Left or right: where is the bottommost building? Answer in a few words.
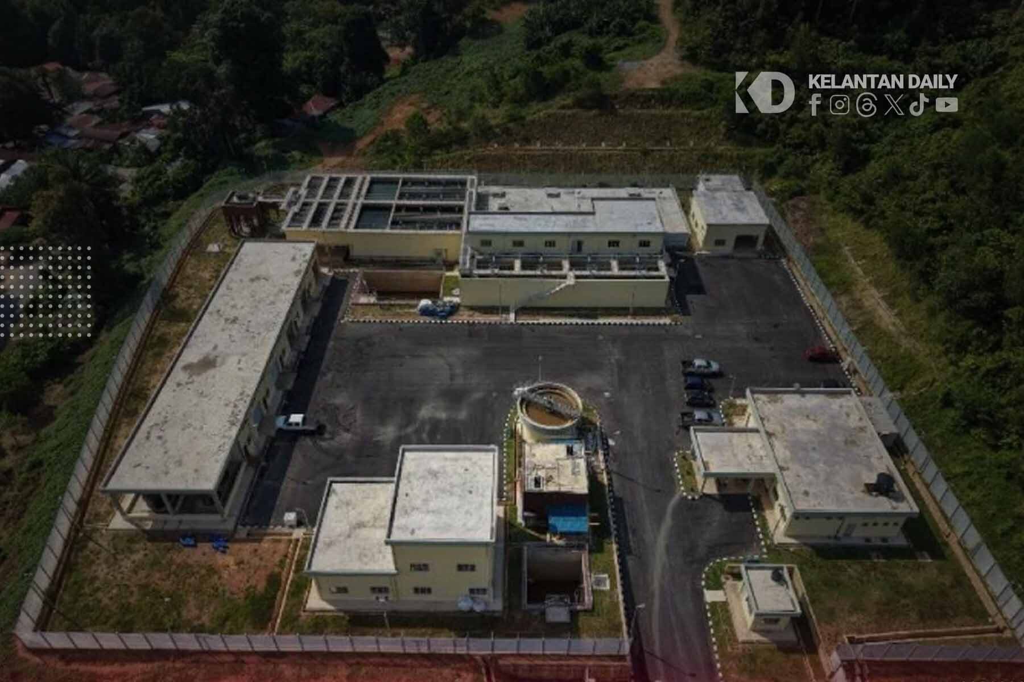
right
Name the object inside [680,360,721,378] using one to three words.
vehicle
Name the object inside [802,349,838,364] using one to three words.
car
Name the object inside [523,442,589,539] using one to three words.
building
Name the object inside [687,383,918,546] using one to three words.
building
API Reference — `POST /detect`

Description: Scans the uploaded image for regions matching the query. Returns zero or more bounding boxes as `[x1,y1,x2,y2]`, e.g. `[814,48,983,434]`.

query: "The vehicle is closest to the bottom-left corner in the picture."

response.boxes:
[275,412,320,431]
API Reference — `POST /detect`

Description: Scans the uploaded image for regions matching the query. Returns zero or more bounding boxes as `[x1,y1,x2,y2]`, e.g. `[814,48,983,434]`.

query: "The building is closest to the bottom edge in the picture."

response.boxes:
[730,566,802,642]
